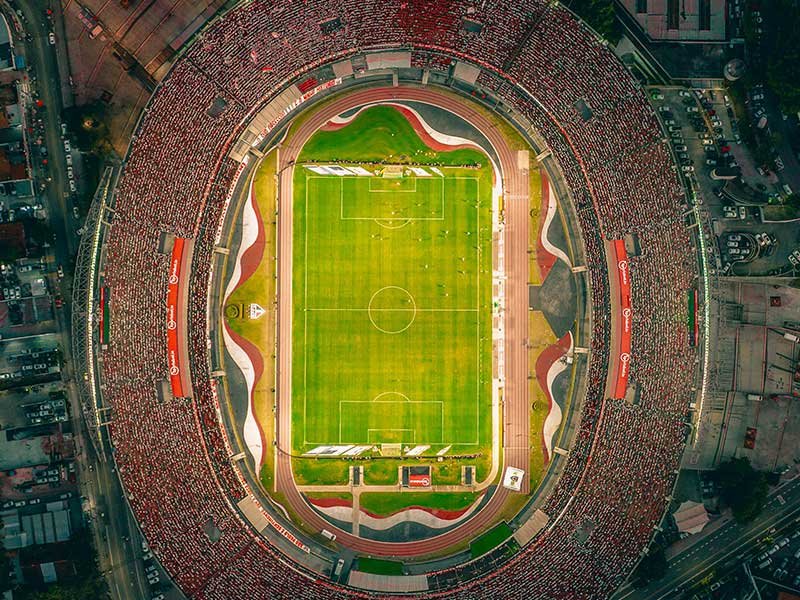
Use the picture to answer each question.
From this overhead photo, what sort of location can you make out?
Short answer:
sports ground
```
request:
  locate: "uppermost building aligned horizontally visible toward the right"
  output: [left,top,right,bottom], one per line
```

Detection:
[627,0,727,41]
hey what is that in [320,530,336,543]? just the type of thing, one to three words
vehicle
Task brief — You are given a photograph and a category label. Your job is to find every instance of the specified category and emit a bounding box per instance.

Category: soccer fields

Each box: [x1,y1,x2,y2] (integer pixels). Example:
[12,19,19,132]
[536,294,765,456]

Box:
[292,166,492,462]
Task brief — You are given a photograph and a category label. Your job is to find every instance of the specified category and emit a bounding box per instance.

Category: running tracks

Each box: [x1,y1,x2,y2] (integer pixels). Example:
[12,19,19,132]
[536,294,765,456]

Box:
[277,88,529,556]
